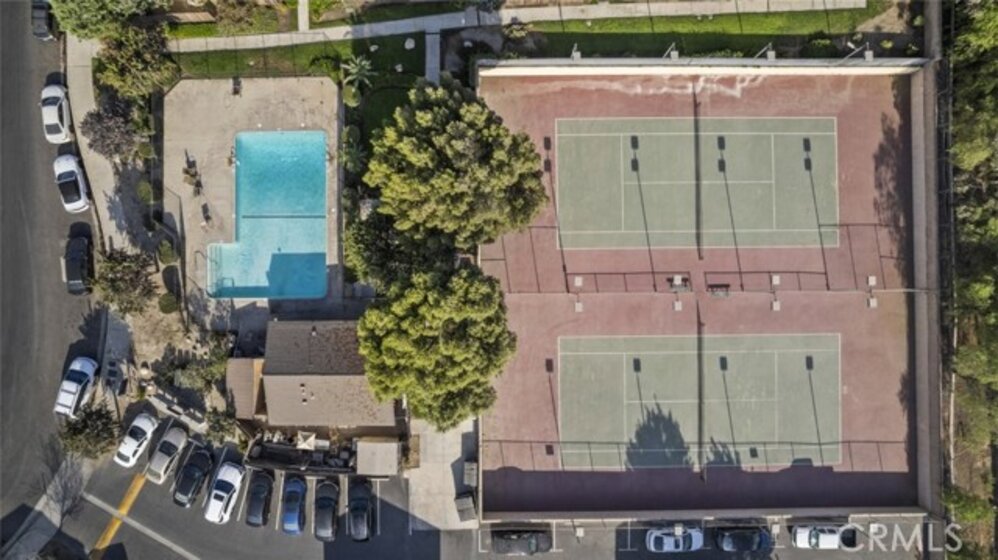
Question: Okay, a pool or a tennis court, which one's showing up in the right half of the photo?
tennis court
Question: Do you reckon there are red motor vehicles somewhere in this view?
No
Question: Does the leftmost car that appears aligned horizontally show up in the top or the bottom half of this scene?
bottom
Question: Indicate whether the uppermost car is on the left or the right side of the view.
left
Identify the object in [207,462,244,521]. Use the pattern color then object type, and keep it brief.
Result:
white car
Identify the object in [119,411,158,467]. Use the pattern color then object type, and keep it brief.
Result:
white car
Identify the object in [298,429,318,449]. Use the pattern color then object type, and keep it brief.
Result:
white umbrella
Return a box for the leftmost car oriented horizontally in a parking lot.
[489,527,553,557]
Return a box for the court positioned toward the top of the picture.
[482,75,914,292]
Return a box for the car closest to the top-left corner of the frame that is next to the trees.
[27,0,58,42]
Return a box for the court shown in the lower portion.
[482,292,917,511]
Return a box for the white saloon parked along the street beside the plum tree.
[41,86,73,143]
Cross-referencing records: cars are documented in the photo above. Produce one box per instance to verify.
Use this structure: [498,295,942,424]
[41,86,73,143]
[248,469,275,525]
[55,155,91,213]
[313,479,340,539]
[57,358,97,414]
[714,526,771,554]
[281,473,307,531]
[207,462,244,521]
[27,0,58,42]
[119,411,158,467]
[62,233,95,291]
[175,445,212,504]
[489,527,553,557]
[346,478,372,538]
[148,426,187,482]
[644,526,704,554]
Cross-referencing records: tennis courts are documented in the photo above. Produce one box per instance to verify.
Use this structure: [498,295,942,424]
[482,292,917,511]
[482,75,914,292]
